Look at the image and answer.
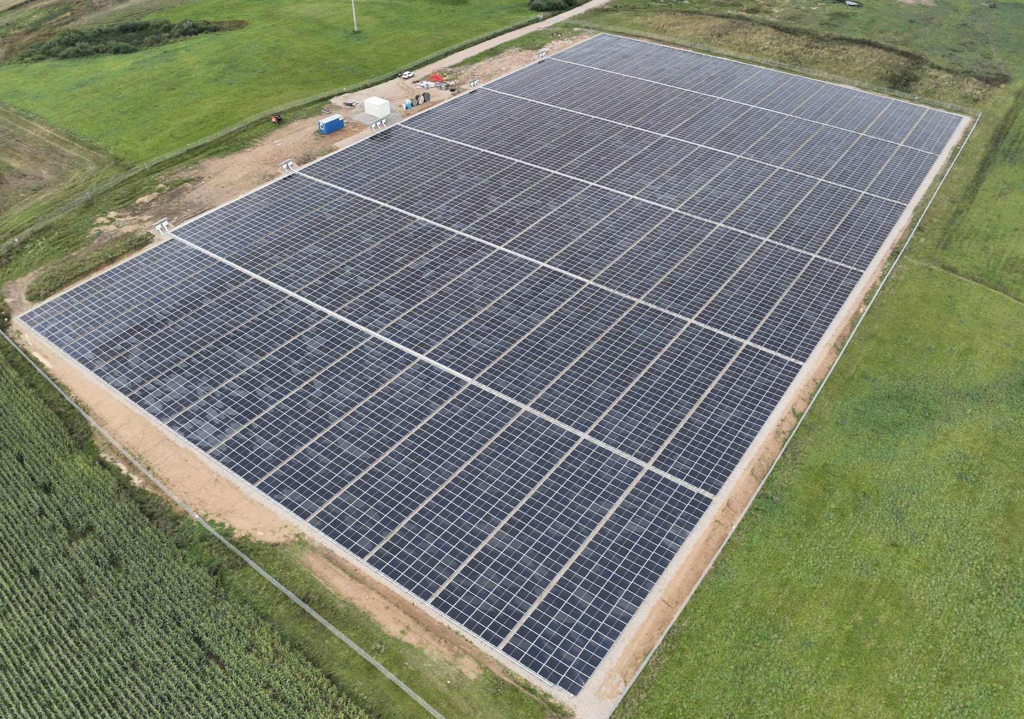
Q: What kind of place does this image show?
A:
solar farm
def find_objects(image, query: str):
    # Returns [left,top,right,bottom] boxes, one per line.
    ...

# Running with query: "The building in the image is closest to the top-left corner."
[363,97,390,118]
